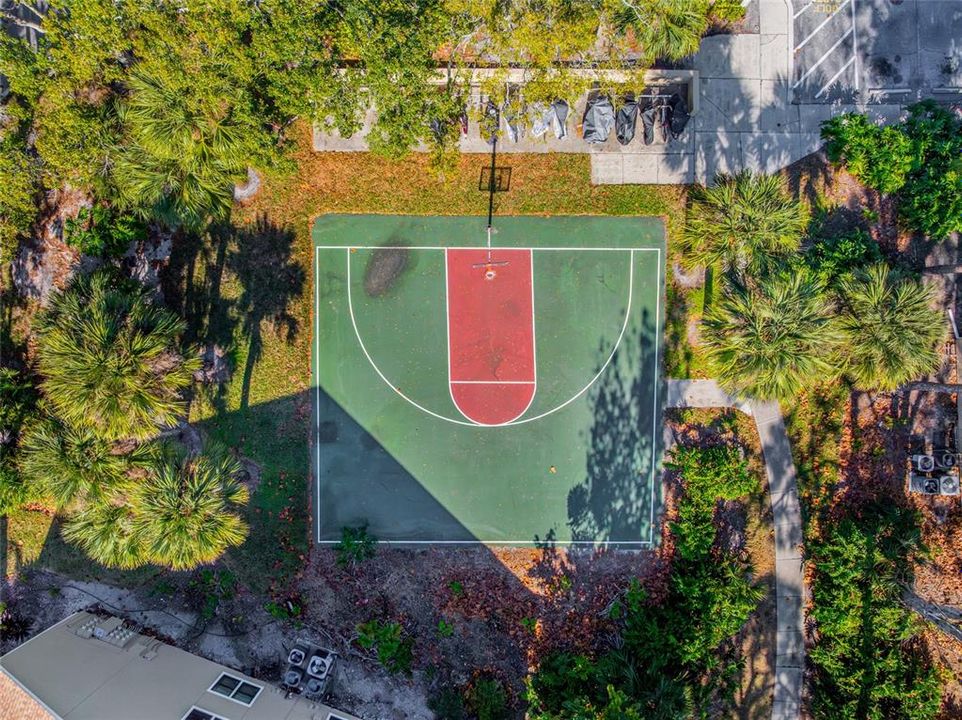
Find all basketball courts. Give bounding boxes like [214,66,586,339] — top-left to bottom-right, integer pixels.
[310,215,667,548]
